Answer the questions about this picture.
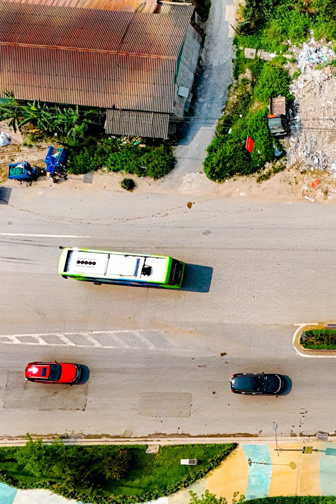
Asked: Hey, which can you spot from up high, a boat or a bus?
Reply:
bus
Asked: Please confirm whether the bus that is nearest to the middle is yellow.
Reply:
No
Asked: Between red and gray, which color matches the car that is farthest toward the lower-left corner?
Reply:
red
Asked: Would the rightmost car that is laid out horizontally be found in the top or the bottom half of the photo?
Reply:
bottom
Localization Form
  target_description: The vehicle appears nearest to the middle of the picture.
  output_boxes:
[55,247,189,293]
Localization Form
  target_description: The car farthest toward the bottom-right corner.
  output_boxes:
[228,370,286,397]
